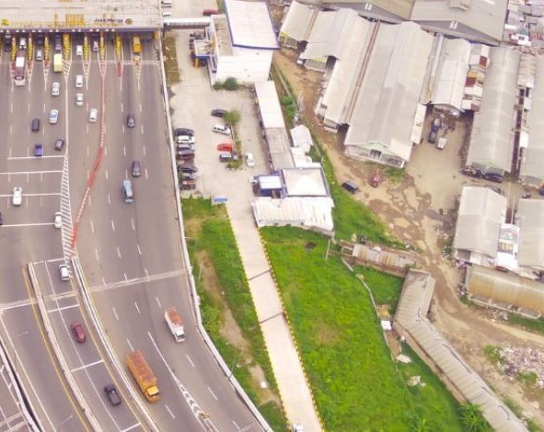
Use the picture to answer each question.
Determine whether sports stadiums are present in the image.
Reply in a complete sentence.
No, I can see no sports stadium in this picture.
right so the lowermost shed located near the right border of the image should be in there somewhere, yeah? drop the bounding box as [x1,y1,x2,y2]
[395,317,528,432]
